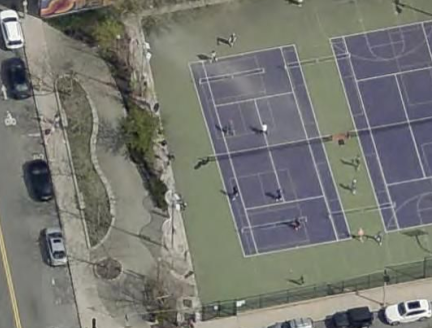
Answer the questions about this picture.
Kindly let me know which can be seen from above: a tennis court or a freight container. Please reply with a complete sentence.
The one in the frame is a tennis court.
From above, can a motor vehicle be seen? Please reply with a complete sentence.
Yes, you can see a motor vehicle in this photo.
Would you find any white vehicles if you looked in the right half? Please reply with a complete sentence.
Yes, a white vehicle appears in the right half.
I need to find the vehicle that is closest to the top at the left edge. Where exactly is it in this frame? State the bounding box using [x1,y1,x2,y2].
[1,12,25,52]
